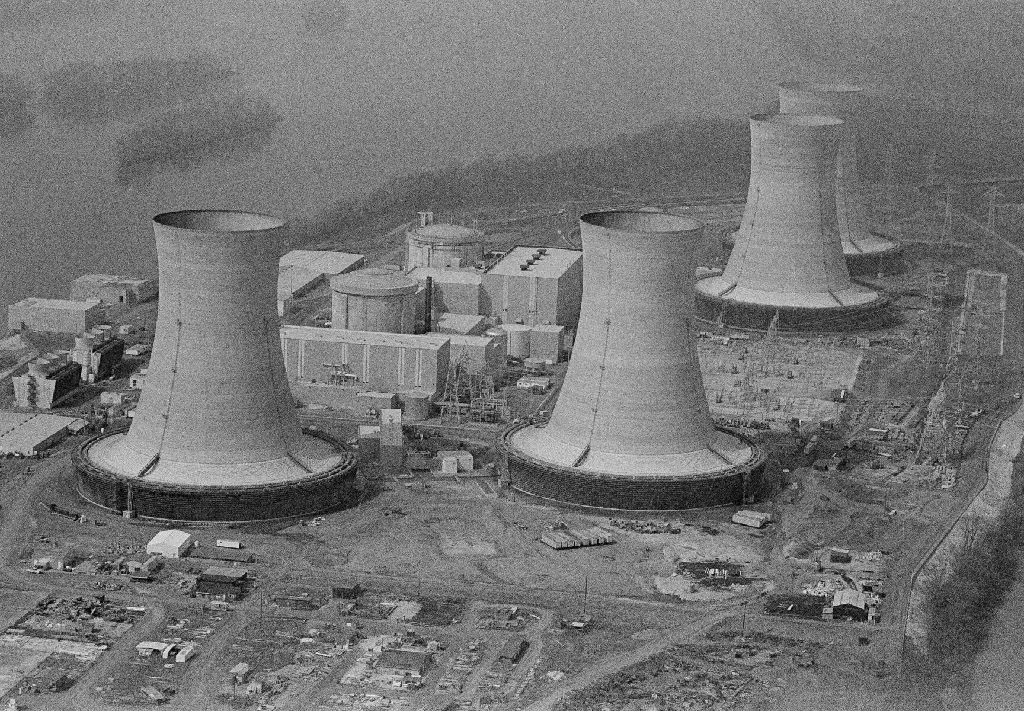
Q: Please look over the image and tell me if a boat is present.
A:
No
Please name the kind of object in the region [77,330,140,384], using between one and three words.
cooling tower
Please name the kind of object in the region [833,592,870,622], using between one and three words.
barn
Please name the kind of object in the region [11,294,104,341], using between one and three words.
building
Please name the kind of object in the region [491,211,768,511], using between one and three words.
cooling tower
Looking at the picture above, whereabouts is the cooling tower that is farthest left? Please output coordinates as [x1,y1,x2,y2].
[13,354,78,411]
